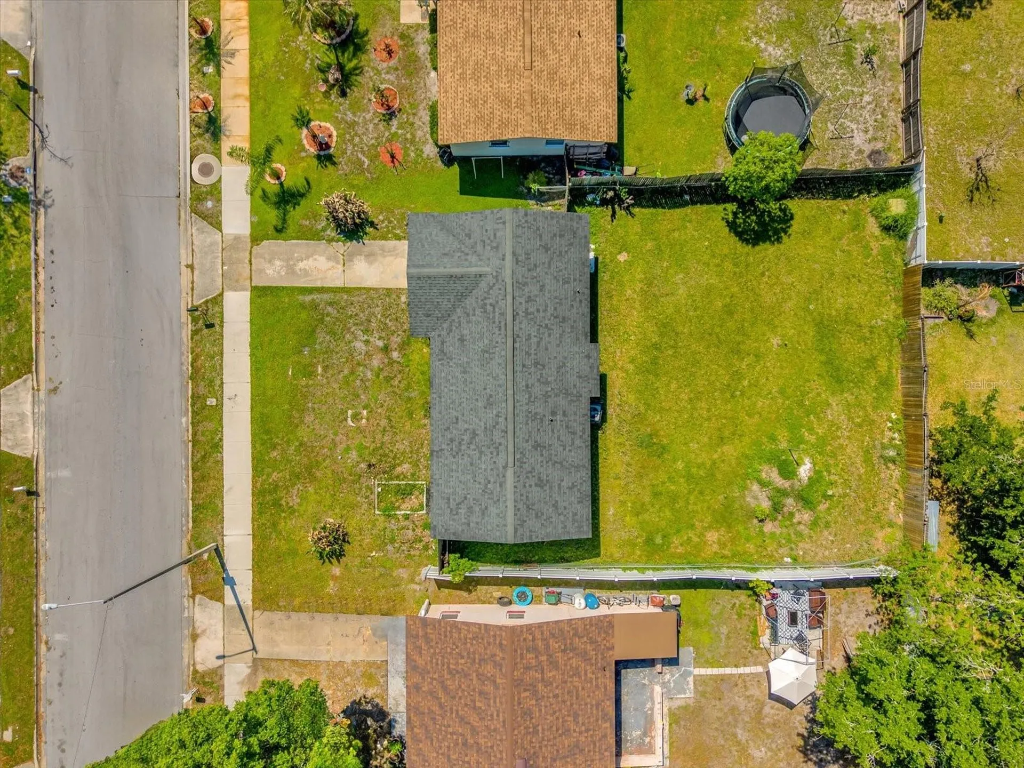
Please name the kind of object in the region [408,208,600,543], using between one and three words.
house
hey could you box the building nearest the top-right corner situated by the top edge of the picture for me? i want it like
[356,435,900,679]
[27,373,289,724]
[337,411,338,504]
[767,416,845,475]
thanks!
[438,0,619,155]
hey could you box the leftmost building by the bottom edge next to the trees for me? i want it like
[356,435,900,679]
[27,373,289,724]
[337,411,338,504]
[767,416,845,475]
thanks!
[405,605,678,768]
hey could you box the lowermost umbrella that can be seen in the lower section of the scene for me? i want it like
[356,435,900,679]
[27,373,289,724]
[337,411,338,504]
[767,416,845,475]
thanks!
[768,647,817,705]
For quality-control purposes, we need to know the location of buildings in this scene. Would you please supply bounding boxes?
[438,0,619,155]
[408,208,600,543]
[405,605,678,768]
